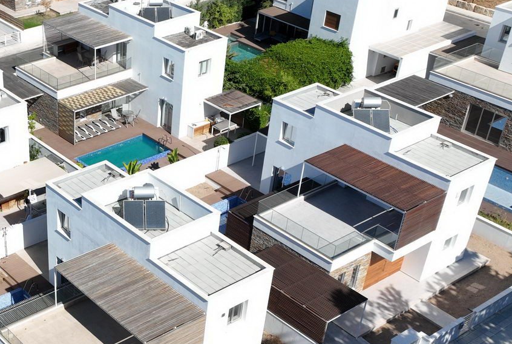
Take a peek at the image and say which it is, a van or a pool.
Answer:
pool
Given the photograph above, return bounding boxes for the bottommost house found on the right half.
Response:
[224,84,497,292]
